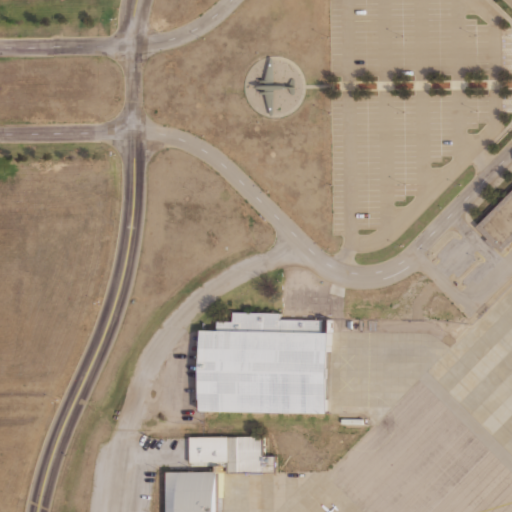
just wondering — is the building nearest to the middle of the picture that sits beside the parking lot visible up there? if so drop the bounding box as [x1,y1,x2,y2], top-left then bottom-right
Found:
[196,312,336,414]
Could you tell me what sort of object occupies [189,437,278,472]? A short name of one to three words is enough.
building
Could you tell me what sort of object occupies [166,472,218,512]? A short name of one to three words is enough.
shed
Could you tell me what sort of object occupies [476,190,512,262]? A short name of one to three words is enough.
building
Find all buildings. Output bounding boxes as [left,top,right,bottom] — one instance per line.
[196,312,336,414]
[189,437,278,472]
[166,472,218,512]
[476,190,512,262]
